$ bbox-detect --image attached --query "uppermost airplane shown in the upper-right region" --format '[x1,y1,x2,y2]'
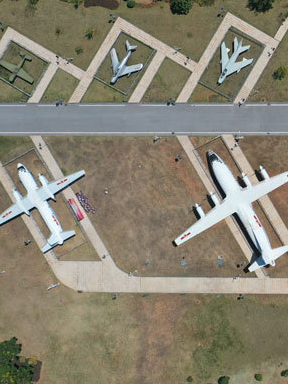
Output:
[217,35,252,86]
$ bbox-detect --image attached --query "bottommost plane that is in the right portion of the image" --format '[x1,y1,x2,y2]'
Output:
[172,150,288,273]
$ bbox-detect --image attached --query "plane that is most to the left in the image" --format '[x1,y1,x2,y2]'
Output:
[0,51,34,84]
